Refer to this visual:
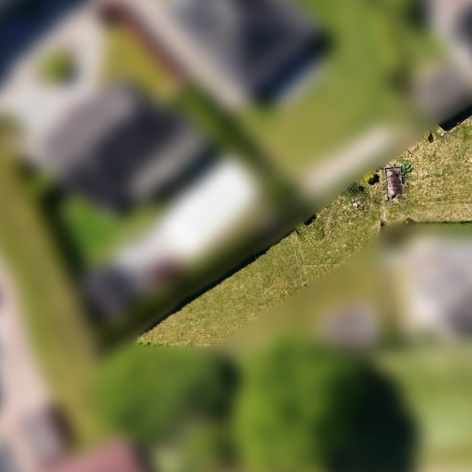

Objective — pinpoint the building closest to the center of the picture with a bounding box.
[153,159,257,255]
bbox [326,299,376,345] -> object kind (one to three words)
building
